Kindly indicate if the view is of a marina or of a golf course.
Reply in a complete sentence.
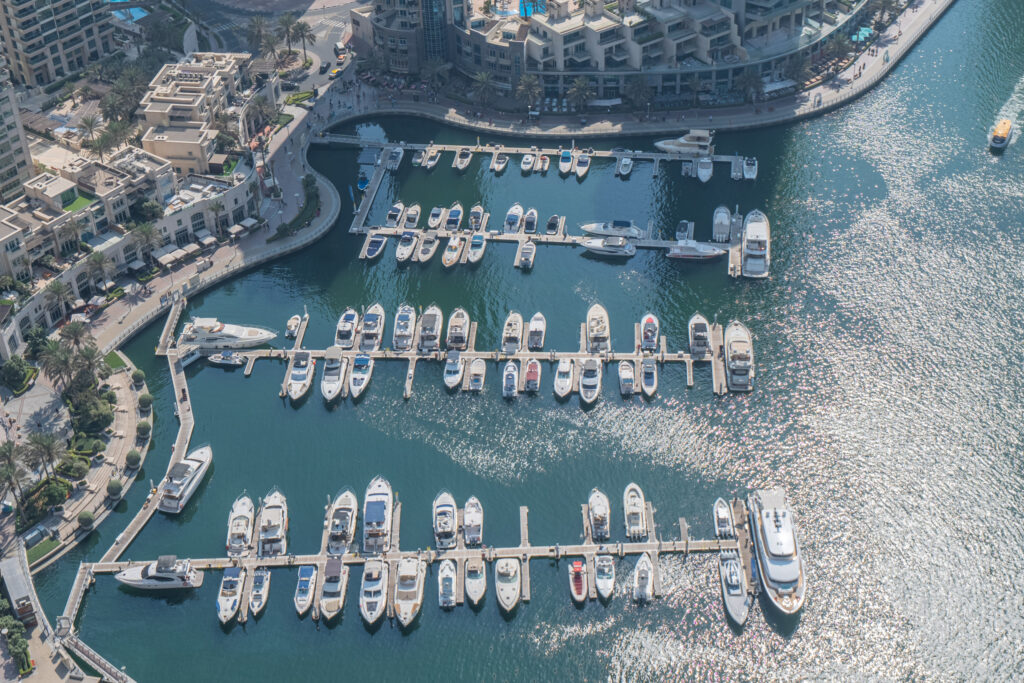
The area seen from above is a marina.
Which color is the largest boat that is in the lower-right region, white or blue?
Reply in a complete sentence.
The color of the largest boat that is in the lower-right region is white.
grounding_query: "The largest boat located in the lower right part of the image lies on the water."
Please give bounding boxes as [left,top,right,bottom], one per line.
[748,487,808,615]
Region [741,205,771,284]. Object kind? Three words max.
boat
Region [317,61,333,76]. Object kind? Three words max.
car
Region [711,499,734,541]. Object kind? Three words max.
boat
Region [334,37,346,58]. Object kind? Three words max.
vehicle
